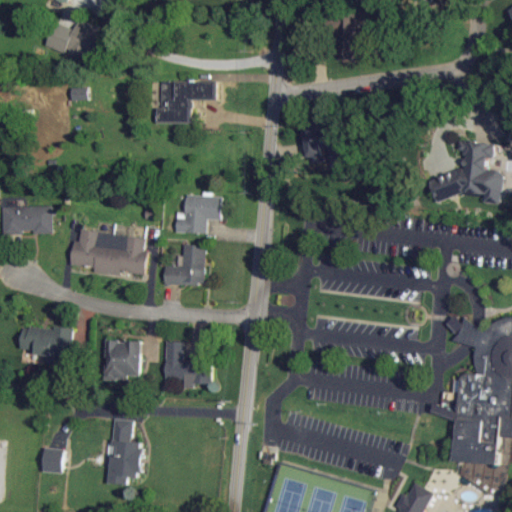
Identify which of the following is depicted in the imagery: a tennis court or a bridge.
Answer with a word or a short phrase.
tennis court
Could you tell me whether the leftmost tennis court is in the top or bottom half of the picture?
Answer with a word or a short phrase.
bottom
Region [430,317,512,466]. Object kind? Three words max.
building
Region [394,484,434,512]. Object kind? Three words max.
building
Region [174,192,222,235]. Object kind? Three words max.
house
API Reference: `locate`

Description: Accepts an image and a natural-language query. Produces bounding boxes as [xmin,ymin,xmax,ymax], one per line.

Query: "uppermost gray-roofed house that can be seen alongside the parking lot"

[429,142,504,204]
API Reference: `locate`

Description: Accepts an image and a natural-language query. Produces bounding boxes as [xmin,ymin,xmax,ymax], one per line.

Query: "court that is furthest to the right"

[336,482,376,512]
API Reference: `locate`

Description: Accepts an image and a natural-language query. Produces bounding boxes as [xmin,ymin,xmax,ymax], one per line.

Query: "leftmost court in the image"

[268,465,314,512]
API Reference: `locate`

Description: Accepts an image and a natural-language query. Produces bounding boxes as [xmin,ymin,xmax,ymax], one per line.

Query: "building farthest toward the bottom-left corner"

[40,449,64,473]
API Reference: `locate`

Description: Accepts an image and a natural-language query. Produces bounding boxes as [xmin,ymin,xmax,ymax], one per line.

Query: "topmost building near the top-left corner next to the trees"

[46,20,82,53]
